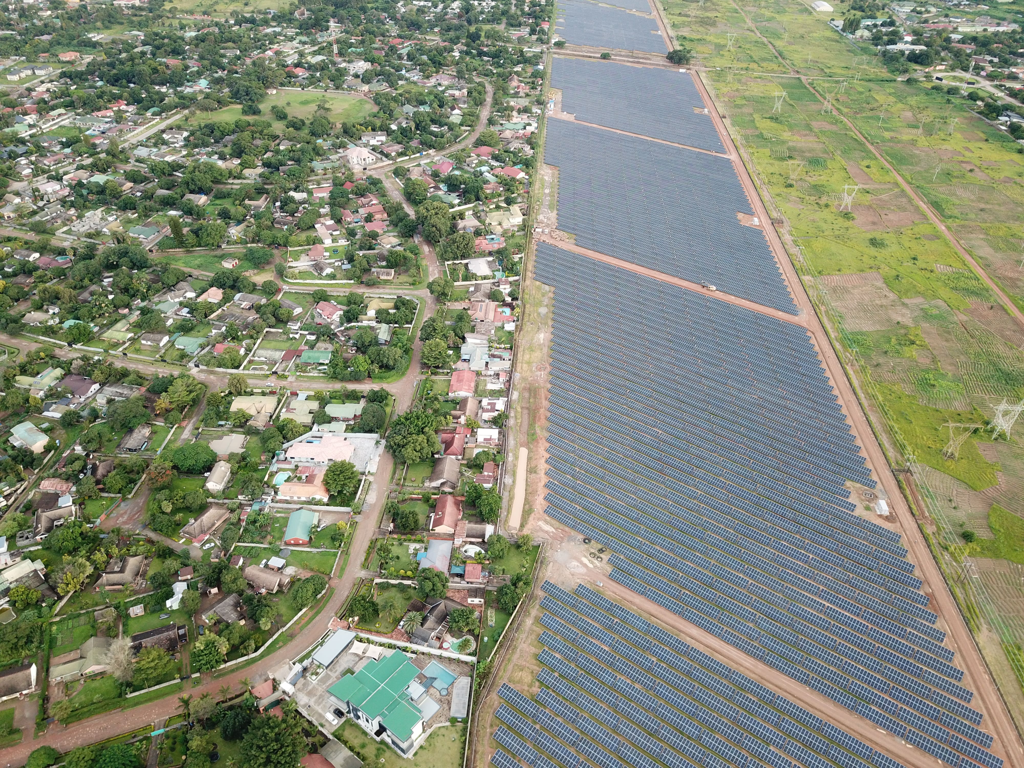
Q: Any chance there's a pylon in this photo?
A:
Yes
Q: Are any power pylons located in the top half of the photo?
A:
Yes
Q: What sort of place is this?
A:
residential area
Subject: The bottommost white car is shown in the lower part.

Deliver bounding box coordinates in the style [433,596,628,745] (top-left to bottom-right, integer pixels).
[324,711,339,726]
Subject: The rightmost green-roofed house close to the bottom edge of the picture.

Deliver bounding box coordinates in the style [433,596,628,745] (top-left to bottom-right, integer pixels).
[326,649,441,756]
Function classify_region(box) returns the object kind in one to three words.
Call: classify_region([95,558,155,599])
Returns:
house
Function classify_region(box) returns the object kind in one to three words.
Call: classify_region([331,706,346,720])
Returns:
car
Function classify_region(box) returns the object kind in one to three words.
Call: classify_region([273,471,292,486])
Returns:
swimming pool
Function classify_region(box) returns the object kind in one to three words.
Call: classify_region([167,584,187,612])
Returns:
shed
